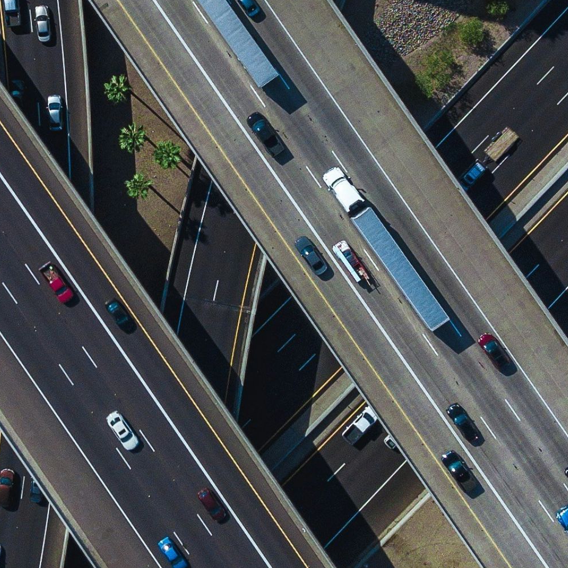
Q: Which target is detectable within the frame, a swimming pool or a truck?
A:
truck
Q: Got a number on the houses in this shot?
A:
0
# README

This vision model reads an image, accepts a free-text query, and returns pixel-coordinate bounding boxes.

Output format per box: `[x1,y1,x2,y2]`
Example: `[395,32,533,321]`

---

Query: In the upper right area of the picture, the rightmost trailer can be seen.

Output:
[481,126,519,164]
